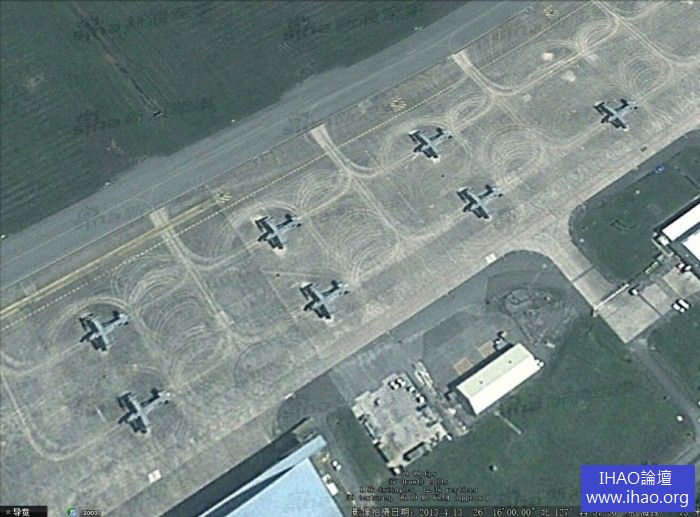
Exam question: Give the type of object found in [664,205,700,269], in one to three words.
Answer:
building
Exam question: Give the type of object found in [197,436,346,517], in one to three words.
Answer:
hangar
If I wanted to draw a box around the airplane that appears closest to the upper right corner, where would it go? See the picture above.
[601,98,643,134]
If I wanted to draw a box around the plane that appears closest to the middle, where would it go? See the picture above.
[310,283,350,319]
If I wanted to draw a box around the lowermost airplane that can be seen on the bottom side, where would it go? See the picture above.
[124,394,166,430]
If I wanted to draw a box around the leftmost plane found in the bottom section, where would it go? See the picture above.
[85,314,126,350]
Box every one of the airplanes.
[85,314,126,350]
[601,98,643,134]
[124,394,166,430]
[264,213,304,250]
[463,183,506,220]
[413,125,456,162]
[310,283,350,319]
